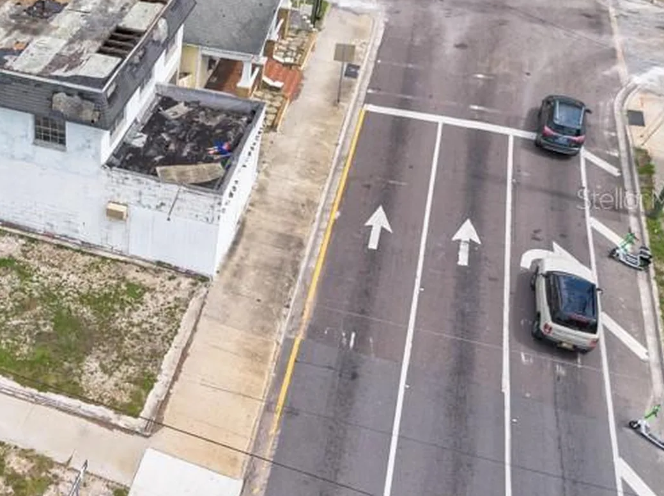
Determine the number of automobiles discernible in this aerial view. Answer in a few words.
2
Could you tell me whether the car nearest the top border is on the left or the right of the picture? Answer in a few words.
right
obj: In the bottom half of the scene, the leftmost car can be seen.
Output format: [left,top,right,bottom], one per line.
[535,255,611,355]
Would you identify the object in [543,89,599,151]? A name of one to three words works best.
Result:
car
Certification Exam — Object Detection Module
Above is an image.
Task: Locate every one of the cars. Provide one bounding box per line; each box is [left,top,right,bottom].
[543,89,599,151]
[535,255,611,355]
